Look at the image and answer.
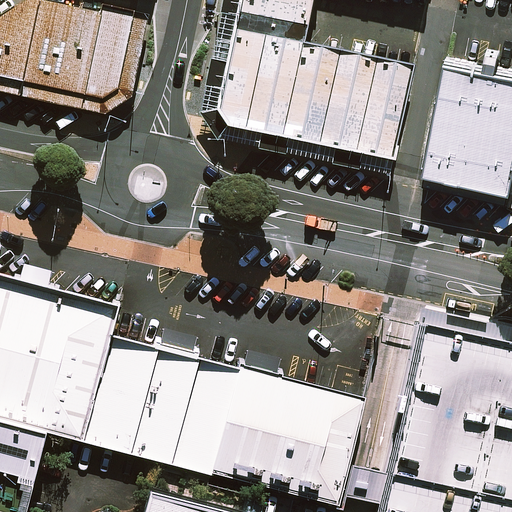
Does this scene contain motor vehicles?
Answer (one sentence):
Yes, the frame does contain a motor vehicle.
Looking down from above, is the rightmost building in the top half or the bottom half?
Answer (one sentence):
Seen from above, the rightmost building lies in the top half of the view.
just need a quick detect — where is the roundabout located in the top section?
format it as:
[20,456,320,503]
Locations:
[128,164,167,202]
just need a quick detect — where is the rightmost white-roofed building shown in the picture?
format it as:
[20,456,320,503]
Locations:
[423,48,512,208]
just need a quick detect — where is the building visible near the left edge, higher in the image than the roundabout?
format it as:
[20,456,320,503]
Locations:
[0,0,147,114]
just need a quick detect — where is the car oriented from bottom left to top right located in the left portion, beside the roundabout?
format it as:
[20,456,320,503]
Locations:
[145,200,168,218]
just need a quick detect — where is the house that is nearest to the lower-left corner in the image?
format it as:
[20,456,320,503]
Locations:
[0,426,46,488]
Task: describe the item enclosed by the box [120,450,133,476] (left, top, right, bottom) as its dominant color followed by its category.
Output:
black vehicle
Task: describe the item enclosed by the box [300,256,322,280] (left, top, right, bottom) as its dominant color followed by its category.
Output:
black car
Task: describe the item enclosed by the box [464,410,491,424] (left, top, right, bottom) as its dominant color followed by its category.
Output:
white vehicle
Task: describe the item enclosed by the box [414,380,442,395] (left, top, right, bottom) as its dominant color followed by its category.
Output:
white vehicle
